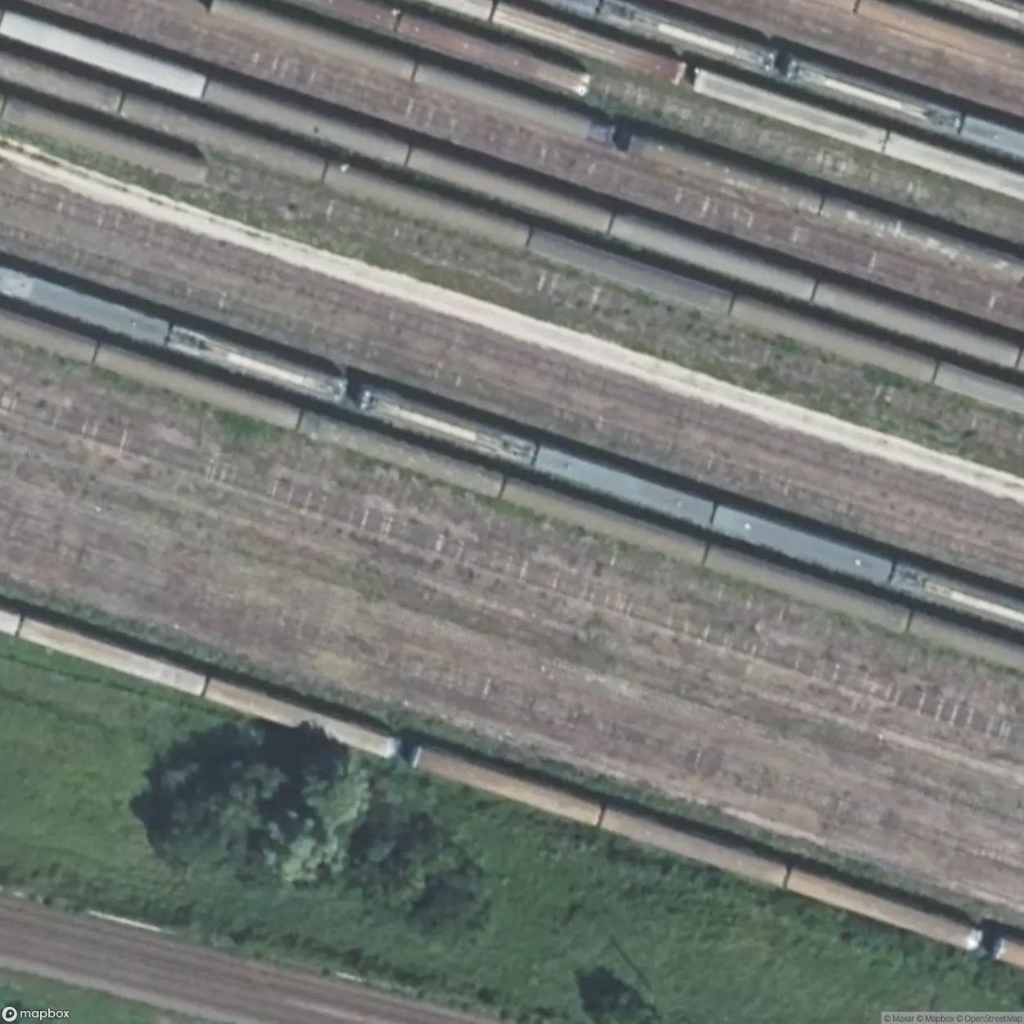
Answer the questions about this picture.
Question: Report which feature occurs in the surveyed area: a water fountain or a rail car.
rail car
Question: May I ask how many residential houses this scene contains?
zero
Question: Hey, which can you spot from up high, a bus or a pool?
bus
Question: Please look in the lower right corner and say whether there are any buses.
Yes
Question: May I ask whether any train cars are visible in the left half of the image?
Yes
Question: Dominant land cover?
paved ground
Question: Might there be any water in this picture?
No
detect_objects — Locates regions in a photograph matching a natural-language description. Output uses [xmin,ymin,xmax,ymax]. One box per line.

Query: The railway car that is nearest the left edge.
[0,267,170,348]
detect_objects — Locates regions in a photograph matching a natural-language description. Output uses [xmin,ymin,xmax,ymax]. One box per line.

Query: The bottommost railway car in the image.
[888,561,1024,630]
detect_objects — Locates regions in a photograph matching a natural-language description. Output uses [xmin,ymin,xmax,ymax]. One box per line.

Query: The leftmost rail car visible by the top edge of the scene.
[529,0,600,20]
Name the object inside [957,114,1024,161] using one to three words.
rail car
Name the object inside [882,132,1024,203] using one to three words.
rail car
